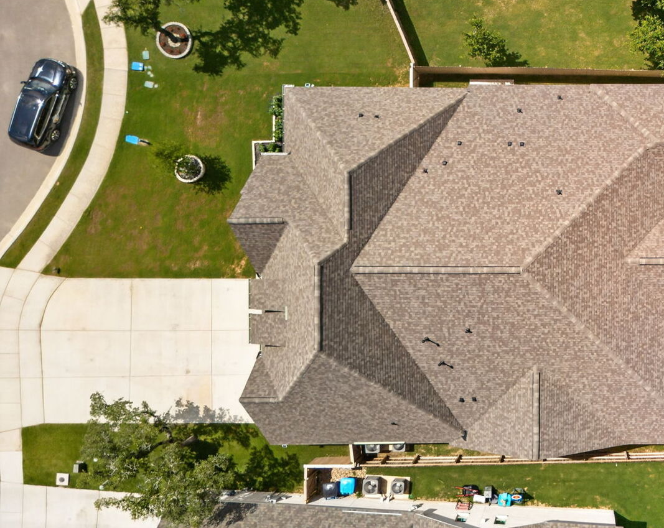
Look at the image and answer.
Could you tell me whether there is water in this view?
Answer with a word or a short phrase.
No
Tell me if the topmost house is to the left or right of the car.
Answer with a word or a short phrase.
to the right of it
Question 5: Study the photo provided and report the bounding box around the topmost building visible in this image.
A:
[226,82,664,460]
